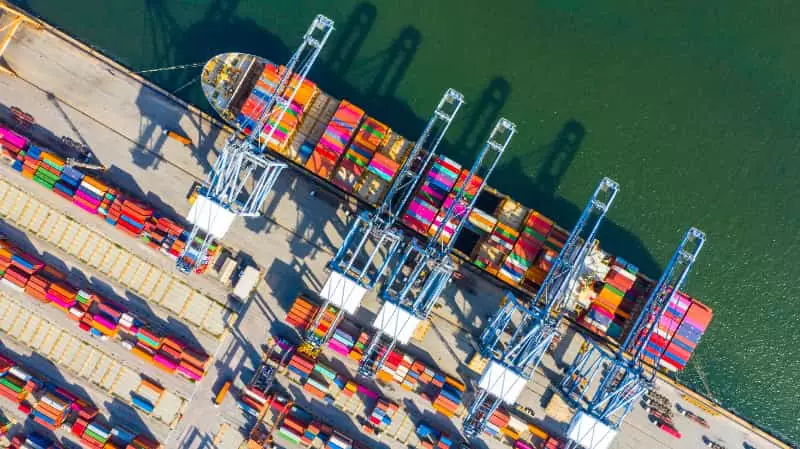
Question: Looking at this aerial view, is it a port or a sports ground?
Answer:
port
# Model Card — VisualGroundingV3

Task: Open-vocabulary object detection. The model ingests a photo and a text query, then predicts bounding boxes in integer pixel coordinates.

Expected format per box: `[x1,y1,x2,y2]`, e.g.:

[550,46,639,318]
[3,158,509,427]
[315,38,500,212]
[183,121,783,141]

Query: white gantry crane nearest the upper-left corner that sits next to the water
[167,12,333,278]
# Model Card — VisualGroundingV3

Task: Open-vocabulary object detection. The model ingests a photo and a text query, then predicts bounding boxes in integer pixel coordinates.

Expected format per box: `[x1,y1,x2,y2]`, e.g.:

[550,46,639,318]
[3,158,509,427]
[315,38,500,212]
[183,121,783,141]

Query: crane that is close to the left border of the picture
[0,2,42,75]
